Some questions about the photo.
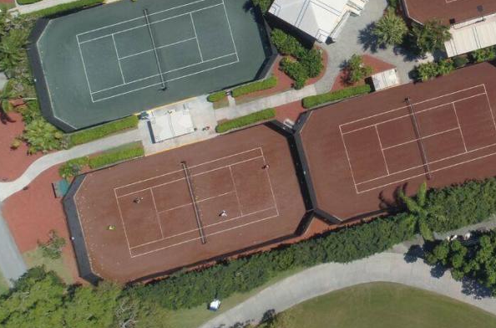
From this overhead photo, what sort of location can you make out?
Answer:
sports ground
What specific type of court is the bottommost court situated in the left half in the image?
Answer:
tennis court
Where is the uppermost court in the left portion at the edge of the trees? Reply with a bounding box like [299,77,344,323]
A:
[37,0,273,128]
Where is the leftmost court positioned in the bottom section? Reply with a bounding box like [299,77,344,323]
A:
[75,122,314,284]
